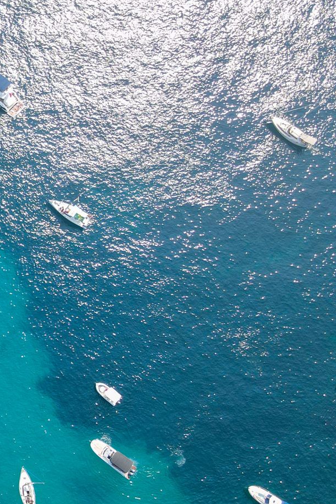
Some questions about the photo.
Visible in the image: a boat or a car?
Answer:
boat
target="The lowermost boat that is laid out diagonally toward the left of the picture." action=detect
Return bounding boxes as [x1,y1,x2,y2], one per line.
[90,439,137,481]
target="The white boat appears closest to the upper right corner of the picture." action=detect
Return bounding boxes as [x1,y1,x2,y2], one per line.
[269,100,328,152]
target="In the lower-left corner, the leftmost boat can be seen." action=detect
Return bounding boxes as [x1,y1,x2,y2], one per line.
[18,467,40,504]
